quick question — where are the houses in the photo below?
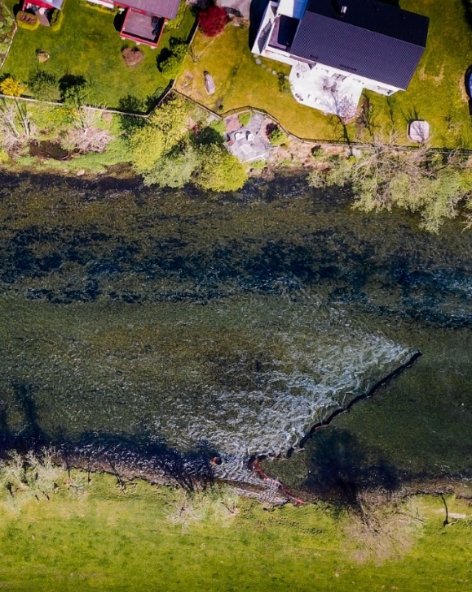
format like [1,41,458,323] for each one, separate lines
[21,0,66,11]
[251,0,429,98]
[89,0,182,57]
